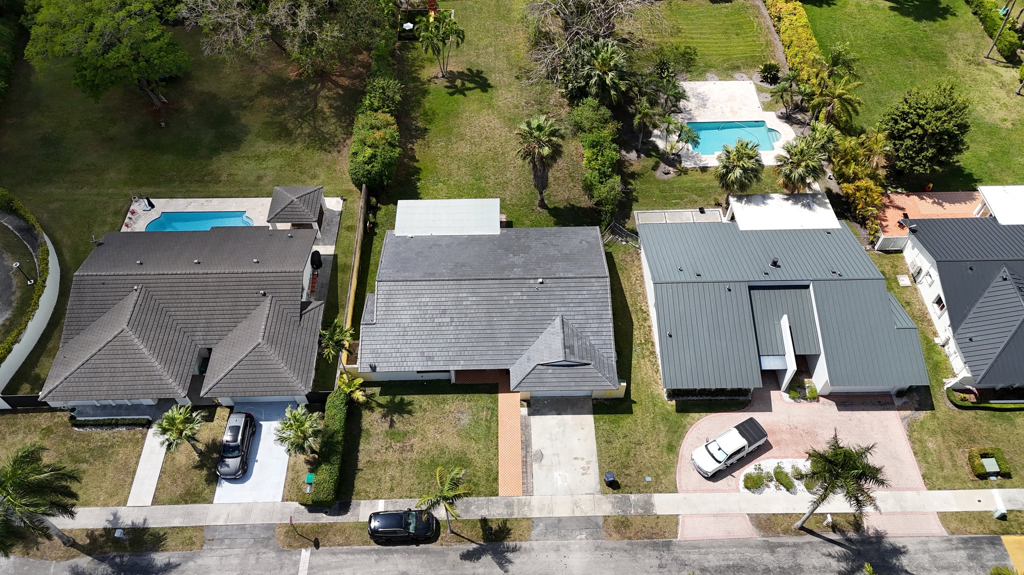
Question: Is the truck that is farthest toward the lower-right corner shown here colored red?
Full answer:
No, from above the truck that is farthest toward the lower-right corner looks white.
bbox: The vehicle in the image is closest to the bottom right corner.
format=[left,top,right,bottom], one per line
[696,417,768,475]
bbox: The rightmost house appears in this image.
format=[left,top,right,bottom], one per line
[900,217,1024,397]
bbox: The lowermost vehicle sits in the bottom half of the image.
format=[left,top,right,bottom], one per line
[366,508,437,544]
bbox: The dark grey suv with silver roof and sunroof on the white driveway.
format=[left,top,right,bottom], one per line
[215,411,257,479]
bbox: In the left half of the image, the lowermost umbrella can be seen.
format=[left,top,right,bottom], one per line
[130,188,154,210]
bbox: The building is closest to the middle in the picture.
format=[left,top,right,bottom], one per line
[356,226,629,398]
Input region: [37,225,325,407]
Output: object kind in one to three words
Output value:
house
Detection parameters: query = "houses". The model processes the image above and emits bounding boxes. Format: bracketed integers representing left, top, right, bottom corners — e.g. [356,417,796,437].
[636,220,930,397]
[900,217,1024,397]
[356,226,629,398]
[37,225,325,407]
